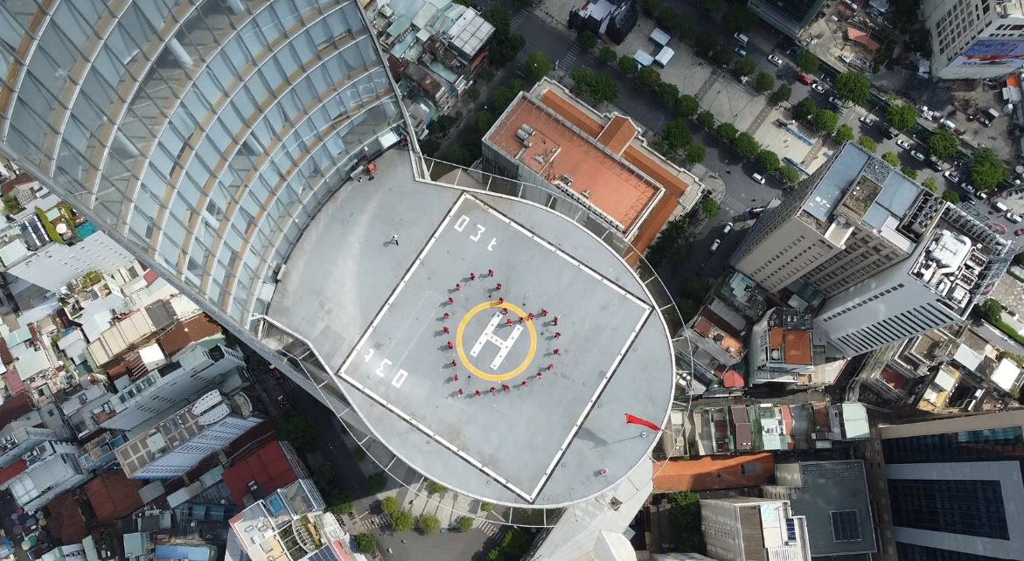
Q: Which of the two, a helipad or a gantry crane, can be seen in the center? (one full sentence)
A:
What appears in the center is a helipad.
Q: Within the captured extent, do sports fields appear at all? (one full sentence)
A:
No, no sports field is visible in the view.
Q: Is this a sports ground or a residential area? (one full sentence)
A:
This image shows a residential area.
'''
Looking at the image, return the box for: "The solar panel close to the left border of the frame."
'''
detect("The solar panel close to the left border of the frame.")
[21,214,47,248]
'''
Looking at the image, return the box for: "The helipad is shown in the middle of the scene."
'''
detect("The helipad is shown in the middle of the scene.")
[267,126,691,526]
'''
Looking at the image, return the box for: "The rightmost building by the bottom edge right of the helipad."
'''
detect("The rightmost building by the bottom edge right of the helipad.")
[856,408,1024,561]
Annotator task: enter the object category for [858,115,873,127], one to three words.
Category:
vehicle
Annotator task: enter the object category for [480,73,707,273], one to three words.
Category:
building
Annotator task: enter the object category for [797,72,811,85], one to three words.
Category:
vehicle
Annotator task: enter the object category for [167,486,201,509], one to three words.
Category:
house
